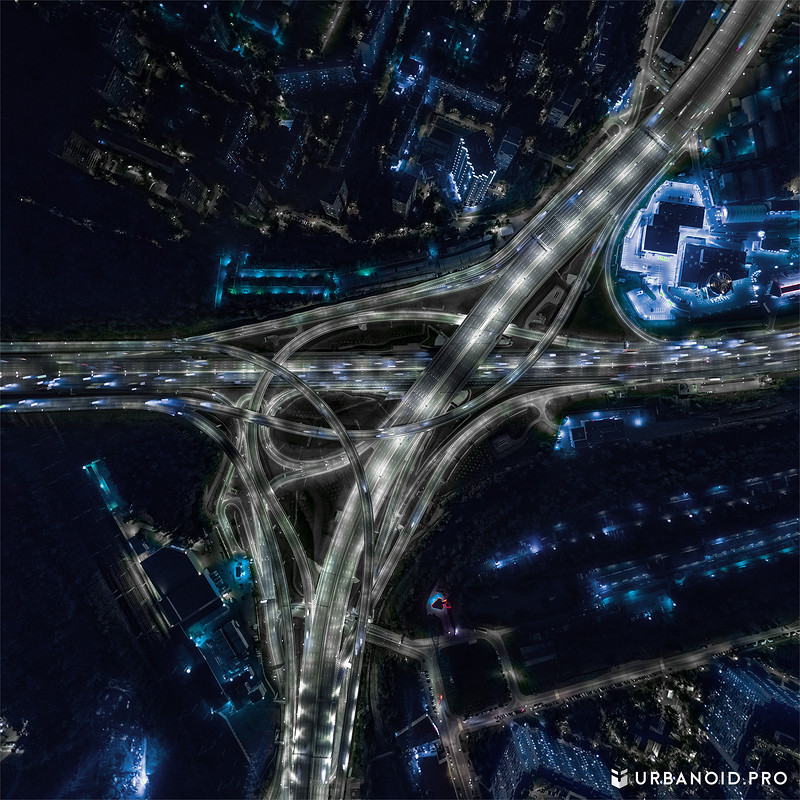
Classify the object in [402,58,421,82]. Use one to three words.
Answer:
building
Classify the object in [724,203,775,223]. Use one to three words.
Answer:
hangar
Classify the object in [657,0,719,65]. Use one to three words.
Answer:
building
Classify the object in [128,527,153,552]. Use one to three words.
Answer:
shed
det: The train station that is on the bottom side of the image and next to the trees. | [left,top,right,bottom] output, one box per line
[87,457,170,617]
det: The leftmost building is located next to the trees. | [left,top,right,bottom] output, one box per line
[38,120,100,176]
